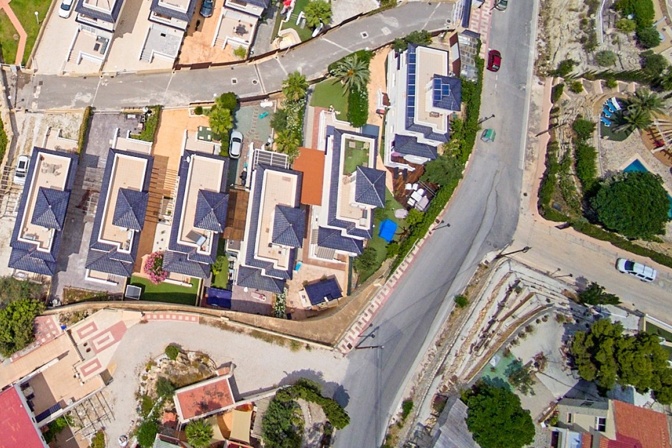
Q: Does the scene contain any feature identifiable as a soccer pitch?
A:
No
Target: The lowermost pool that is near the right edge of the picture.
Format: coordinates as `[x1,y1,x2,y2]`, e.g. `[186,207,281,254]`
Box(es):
[618,154,672,227]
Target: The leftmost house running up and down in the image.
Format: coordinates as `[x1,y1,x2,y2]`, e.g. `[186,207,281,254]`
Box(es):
[7,121,81,285]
